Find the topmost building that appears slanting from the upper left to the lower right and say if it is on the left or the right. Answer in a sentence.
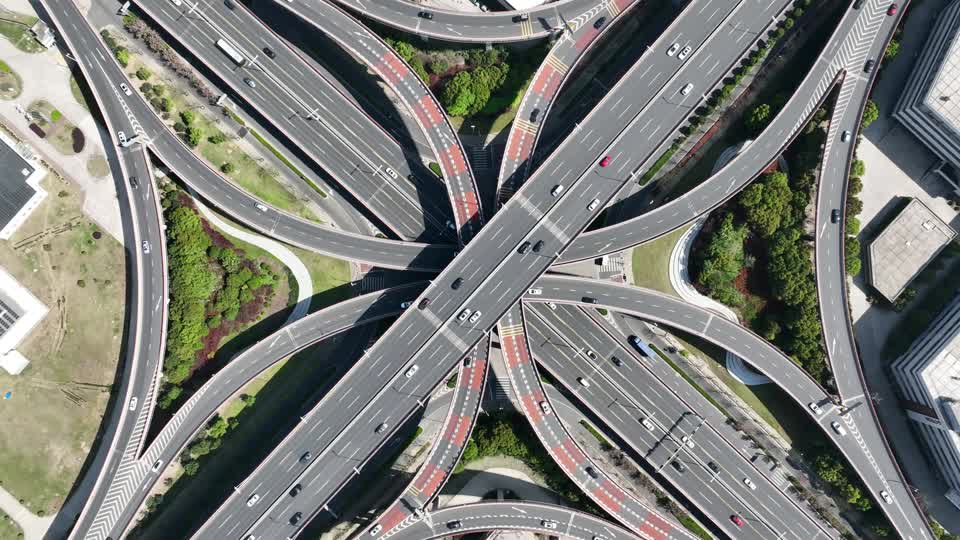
The topmost building that appears slanting from the upper left to the lower right is on the left side of the image.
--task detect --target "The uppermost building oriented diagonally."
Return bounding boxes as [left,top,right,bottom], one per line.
[34,18,64,50]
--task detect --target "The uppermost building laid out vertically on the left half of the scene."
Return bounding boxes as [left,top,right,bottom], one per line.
[0,128,49,245]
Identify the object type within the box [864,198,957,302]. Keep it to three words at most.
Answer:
building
